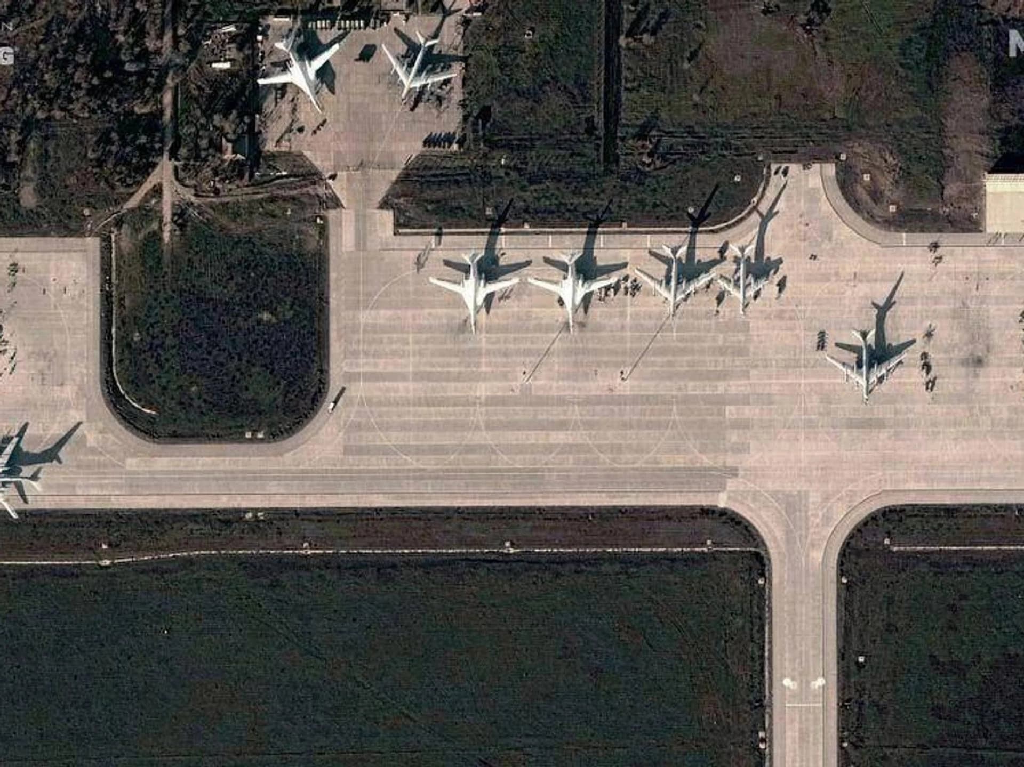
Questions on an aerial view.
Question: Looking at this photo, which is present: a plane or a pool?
plane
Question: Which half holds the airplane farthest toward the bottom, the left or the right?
left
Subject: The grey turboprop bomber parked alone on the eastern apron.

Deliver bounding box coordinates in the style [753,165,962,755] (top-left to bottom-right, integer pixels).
[827,327,907,398]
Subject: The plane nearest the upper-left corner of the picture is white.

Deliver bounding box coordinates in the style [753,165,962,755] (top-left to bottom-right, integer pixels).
[256,30,338,110]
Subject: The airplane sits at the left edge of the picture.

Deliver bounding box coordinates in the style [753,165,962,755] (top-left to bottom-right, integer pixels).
[0,440,46,519]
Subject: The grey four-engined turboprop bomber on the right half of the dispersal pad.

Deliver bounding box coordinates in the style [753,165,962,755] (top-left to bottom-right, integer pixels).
[384,27,459,100]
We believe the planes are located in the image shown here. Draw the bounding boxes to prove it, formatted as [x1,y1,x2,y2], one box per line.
[718,240,768,312]
[0,440,46,519]
[384,27,459,100]
[256,30,338,110]
[636,243,716,315]
[827,327,907,398]
[430,247,519,332]
[528,247,617,333]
